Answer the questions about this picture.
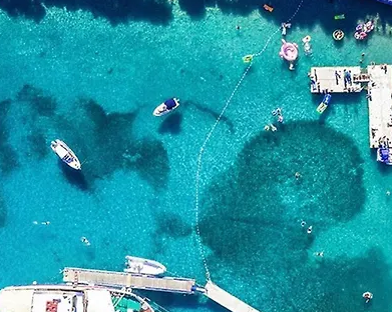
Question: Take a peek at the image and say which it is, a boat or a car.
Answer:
boat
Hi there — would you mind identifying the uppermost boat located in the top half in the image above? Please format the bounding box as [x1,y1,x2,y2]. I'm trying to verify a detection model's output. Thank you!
[154,96,182,116]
